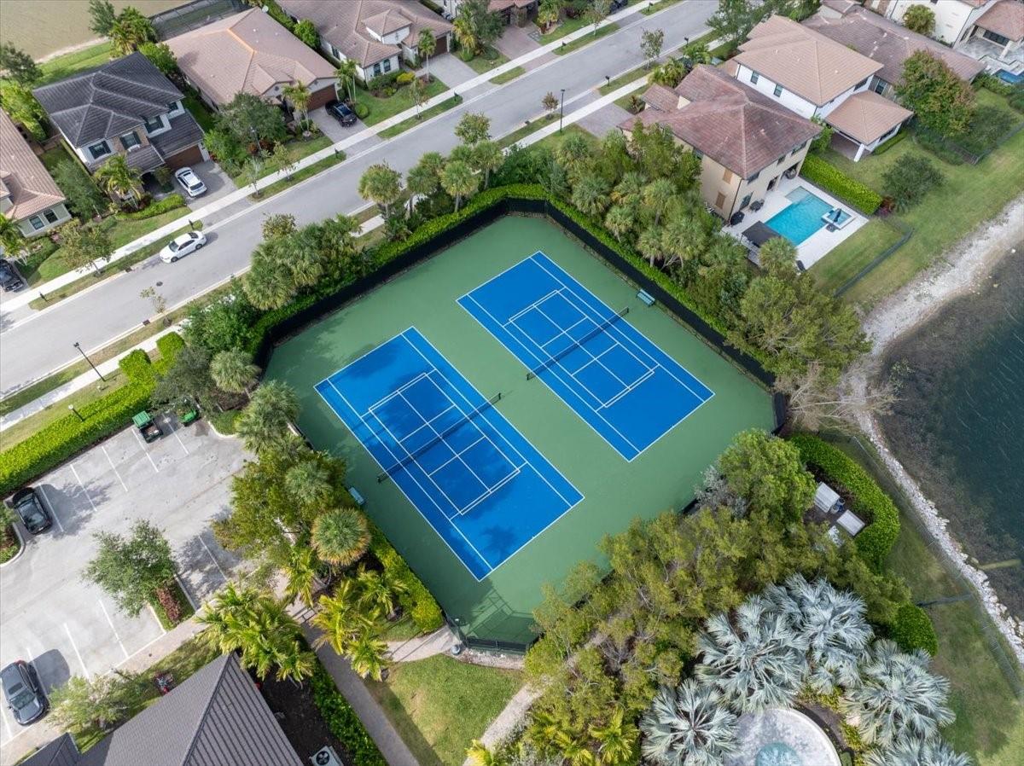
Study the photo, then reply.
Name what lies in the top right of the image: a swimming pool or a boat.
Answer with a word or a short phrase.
swimming pool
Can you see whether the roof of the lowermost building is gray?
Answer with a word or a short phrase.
Yes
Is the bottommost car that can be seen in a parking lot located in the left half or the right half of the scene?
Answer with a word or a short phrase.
left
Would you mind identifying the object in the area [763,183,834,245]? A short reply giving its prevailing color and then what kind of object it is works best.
blue swimming pool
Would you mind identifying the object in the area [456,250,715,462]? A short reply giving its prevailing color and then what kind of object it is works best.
blue tennis court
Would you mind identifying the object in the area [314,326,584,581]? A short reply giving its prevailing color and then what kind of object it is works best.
blue tennis court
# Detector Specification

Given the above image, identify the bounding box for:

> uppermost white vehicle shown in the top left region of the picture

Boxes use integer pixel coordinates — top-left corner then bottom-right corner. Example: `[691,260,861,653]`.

[172,168,201,195]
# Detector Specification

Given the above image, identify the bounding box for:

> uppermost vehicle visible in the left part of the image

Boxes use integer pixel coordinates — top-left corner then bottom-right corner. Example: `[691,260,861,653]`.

[323,98,355,126]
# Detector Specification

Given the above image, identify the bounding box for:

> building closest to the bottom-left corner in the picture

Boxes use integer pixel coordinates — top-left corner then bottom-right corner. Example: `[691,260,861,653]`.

[10,650,300,766]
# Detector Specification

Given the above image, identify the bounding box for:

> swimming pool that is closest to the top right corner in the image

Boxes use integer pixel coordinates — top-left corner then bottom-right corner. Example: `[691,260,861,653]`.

[988,63,1024,90]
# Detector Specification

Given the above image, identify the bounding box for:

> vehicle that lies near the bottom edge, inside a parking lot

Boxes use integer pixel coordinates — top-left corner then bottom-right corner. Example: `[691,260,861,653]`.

[0,663,50,735]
